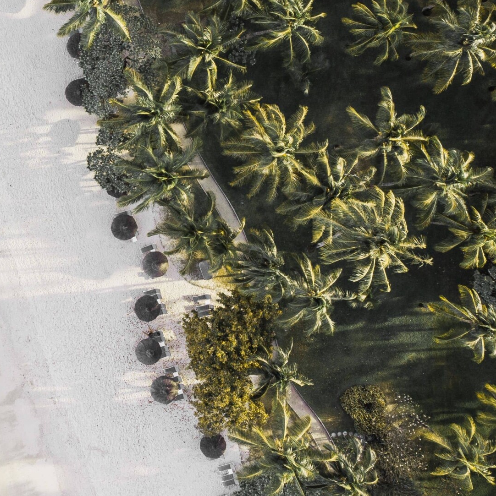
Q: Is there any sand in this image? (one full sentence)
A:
Yes, sand shows up in the scene.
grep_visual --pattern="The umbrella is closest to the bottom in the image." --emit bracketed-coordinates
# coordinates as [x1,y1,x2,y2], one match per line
[198,433,226,459]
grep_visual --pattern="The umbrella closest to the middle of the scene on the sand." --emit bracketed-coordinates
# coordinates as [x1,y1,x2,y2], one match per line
[141,250,169,279]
